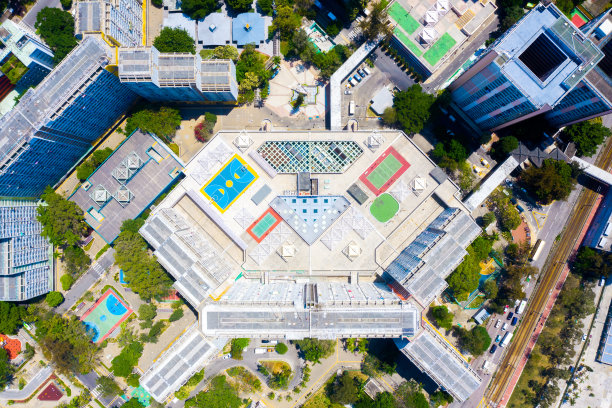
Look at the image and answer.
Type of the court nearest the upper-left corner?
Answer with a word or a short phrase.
basketball court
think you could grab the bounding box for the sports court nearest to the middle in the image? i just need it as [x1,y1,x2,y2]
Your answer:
[247,207,283,243]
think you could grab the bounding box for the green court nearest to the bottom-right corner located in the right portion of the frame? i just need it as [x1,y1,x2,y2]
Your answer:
[371,194,397,222]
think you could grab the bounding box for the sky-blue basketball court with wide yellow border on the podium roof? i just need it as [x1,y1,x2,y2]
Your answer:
[200,154,259,213]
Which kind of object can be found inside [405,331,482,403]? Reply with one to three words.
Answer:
building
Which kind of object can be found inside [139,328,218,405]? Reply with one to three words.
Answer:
building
